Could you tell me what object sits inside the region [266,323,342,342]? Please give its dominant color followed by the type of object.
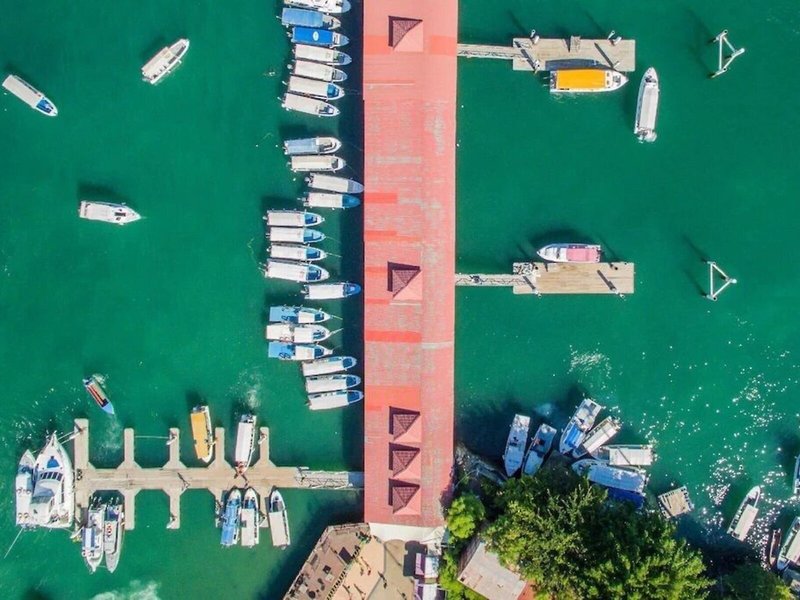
white boat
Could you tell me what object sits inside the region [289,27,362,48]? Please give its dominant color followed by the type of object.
blue boat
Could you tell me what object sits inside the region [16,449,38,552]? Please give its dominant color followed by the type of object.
white boat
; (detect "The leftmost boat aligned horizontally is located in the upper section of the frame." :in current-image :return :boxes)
[77,203,143,226]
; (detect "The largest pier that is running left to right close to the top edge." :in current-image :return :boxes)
[512,24,636,73]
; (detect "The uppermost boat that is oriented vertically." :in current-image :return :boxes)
[631,66,660,139]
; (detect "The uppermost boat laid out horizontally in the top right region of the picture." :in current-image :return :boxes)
[541,68,629,98]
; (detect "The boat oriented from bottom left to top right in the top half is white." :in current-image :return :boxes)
[145,40,191,84]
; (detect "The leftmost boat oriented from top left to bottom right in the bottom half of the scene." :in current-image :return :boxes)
[81,376,115,414]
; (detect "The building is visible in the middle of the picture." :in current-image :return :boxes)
[362,0,459,525]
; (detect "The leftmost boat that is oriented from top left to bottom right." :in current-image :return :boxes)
[2,73,60,115]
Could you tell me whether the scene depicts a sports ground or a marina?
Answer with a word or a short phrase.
marina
